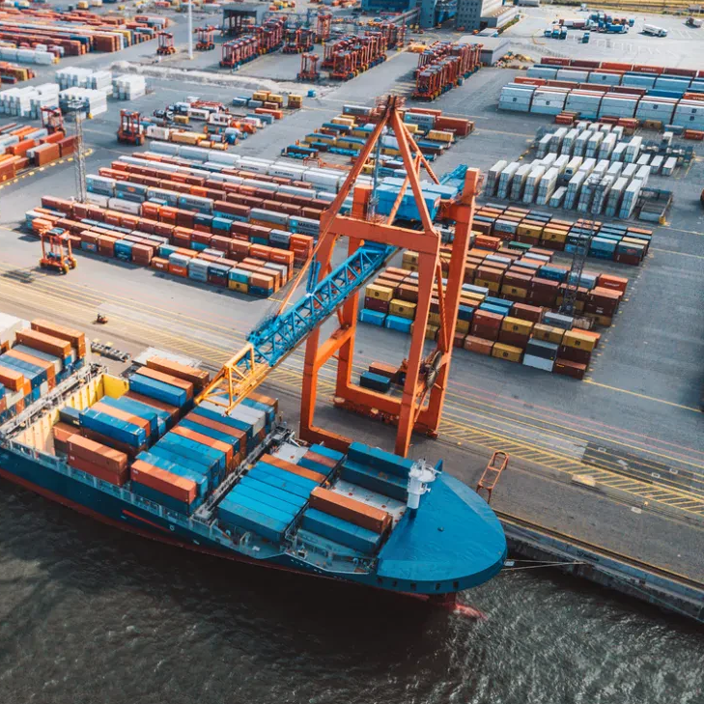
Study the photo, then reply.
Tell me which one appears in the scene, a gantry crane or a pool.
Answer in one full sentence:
Of the two, only a gantry crane appears.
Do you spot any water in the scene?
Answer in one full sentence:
Yes, water can be seen from above here.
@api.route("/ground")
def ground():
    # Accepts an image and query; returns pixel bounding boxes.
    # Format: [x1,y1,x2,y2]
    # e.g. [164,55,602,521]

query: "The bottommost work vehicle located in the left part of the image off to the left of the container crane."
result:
[93,309,109,323]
